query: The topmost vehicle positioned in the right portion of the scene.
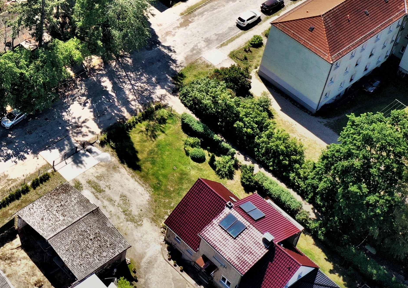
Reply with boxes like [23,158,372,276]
[259,0,288,14]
